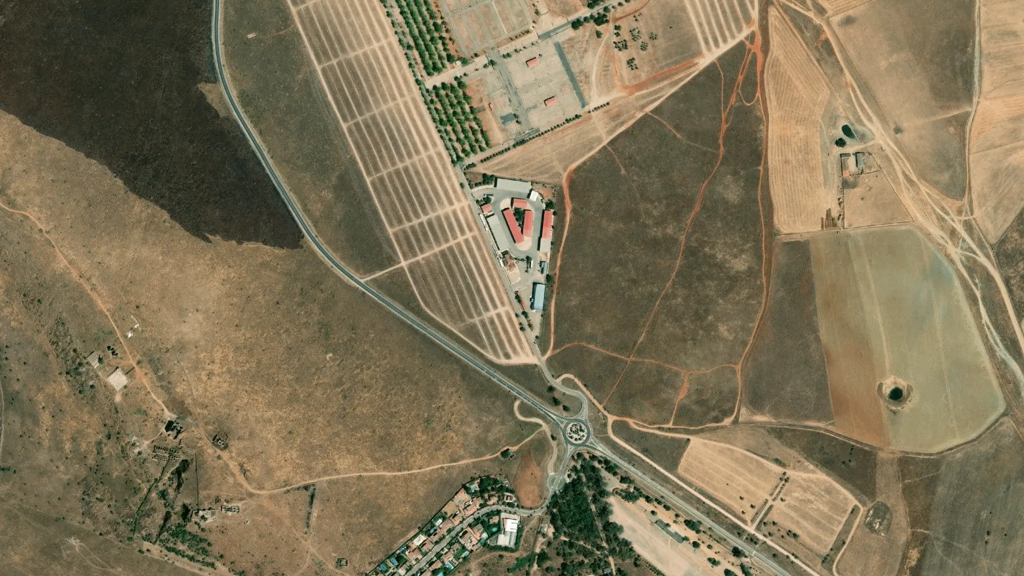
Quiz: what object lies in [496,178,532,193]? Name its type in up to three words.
building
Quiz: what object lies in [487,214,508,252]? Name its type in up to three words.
shed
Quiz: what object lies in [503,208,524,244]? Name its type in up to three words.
building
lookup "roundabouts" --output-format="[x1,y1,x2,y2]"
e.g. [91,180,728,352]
[541,398,609,468]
